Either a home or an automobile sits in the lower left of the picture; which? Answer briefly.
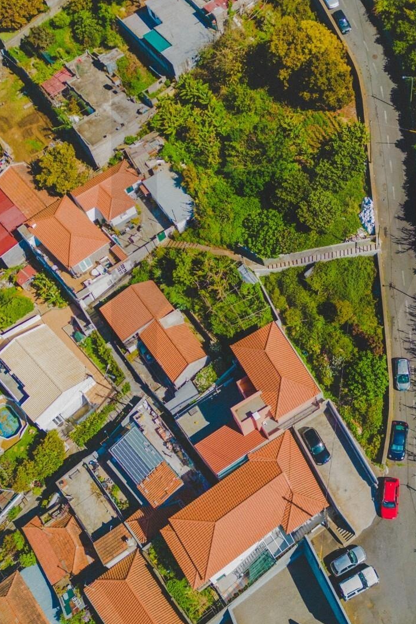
home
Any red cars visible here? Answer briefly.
Yes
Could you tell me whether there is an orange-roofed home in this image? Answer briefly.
Yes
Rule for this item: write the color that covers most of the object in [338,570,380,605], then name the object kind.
white car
